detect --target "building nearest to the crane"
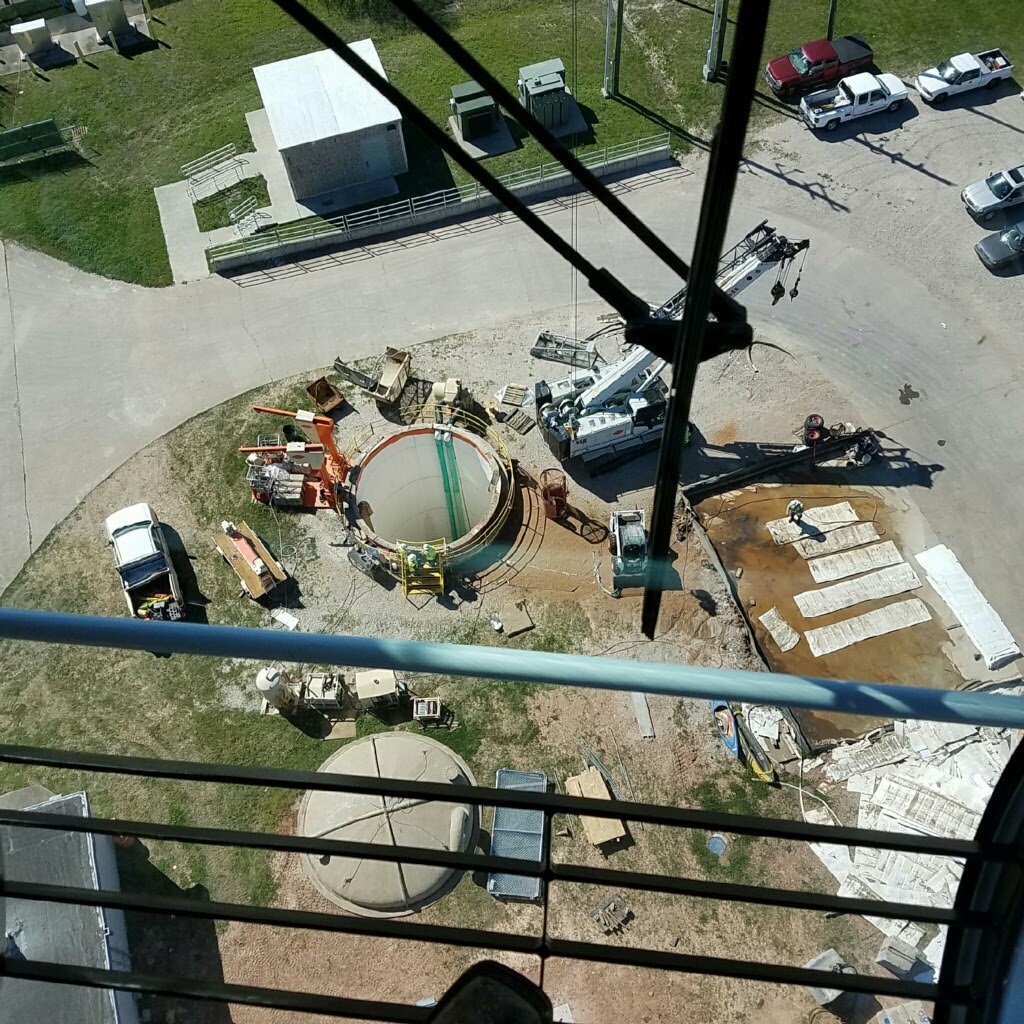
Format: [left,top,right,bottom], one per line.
[251,41,407,200]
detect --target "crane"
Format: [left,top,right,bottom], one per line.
[530,222,806,477]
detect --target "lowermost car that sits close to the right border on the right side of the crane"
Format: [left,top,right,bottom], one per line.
[976,221,1024,274]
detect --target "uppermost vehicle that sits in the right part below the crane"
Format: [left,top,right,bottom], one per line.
[608,507,652,593]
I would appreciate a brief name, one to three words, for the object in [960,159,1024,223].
car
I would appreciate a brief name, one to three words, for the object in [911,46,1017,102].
truck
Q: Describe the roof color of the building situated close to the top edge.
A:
white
